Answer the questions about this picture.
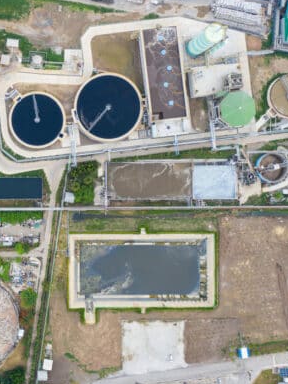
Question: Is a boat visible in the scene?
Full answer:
No, there is no boat in the image.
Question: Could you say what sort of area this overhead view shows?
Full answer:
The picture captures an industrial area.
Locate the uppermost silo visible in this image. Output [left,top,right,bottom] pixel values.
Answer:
[185,21,231,57]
